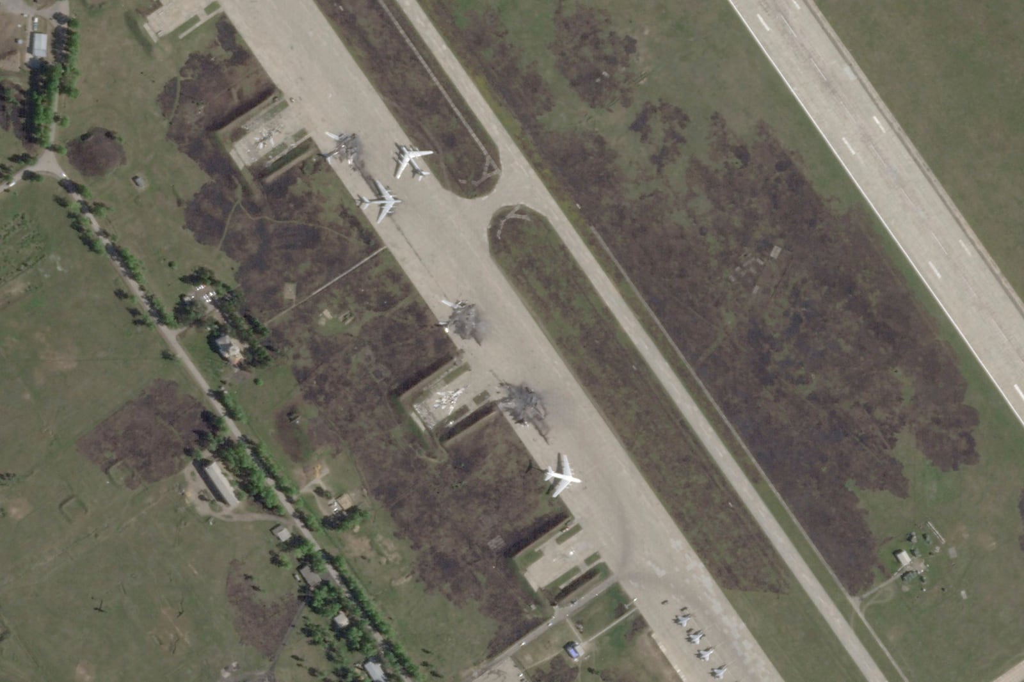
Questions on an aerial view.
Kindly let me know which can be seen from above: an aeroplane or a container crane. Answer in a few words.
aeroplane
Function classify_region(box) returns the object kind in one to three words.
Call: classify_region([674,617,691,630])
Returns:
airplane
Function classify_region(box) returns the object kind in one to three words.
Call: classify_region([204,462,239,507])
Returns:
building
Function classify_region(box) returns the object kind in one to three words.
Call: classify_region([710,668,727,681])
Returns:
airplane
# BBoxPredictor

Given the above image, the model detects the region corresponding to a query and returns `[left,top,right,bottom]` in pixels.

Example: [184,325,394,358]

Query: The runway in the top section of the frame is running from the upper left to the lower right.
[729,0,1024,424]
